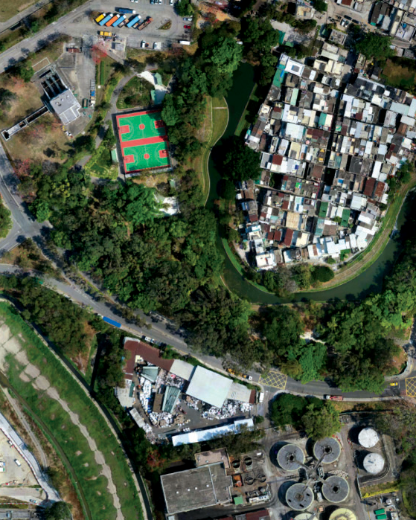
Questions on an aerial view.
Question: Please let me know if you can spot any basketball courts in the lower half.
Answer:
No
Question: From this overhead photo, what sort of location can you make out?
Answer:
residential area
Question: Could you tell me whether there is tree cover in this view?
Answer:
Yes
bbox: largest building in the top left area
[50,88,82,124]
